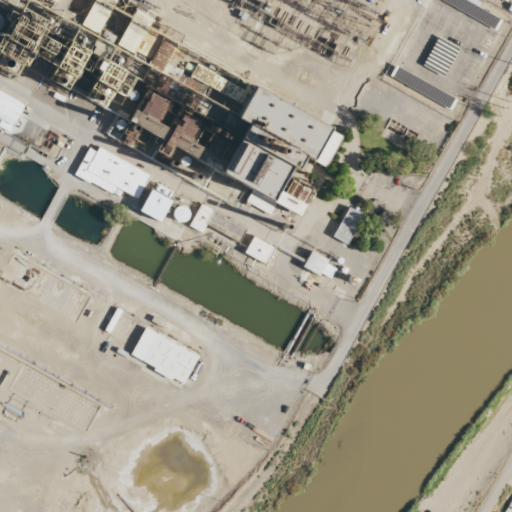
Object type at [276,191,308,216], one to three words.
building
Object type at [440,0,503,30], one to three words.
shed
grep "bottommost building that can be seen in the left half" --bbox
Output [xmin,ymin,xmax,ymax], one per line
[132,327,202,383]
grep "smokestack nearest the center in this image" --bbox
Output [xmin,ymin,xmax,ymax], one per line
[278,221,294,233]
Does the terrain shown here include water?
Yes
